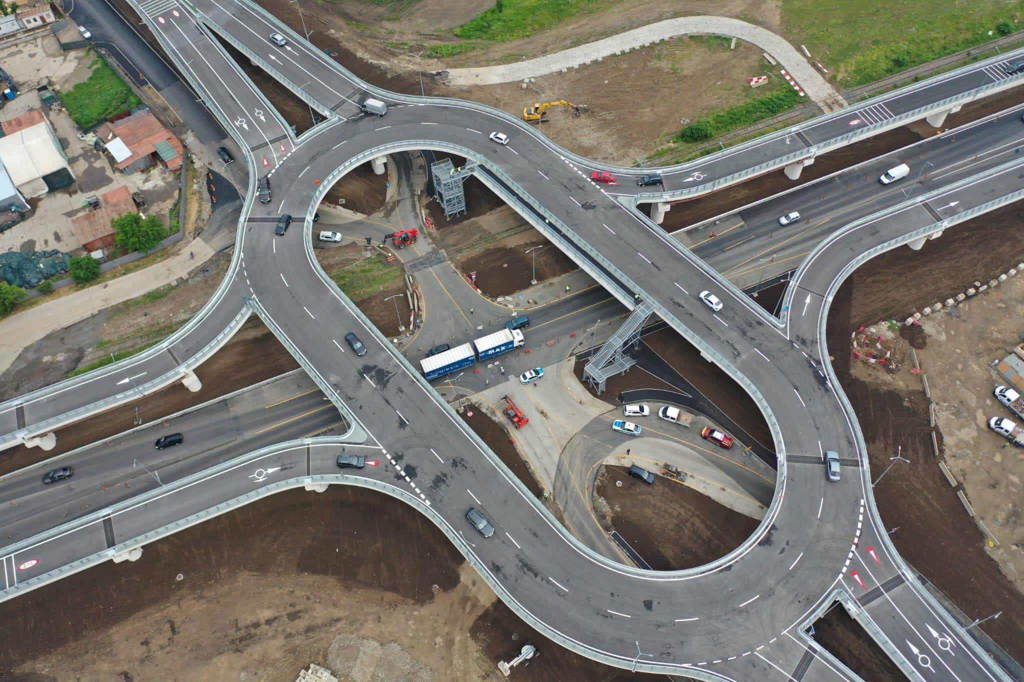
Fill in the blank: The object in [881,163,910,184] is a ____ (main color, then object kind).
white vehicle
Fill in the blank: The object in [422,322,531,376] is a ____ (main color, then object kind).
white truck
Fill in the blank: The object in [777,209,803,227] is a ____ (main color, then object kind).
white car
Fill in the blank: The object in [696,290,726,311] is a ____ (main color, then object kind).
white car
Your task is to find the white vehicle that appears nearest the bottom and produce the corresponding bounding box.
[500,642,541,674]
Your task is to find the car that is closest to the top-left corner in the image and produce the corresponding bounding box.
[75,24,93,38]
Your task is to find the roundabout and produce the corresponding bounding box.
[154,23,916,682]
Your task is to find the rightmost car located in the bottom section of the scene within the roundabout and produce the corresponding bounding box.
[824,450,841,482]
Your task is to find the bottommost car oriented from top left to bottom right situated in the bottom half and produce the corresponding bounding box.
[464,505,496,538]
